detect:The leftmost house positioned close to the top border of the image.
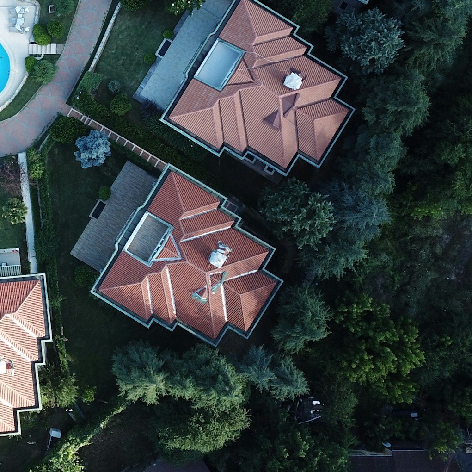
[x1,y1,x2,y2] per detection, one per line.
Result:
[159,0,352,174]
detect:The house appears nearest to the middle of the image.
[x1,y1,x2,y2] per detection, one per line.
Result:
[89,164,281,346]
